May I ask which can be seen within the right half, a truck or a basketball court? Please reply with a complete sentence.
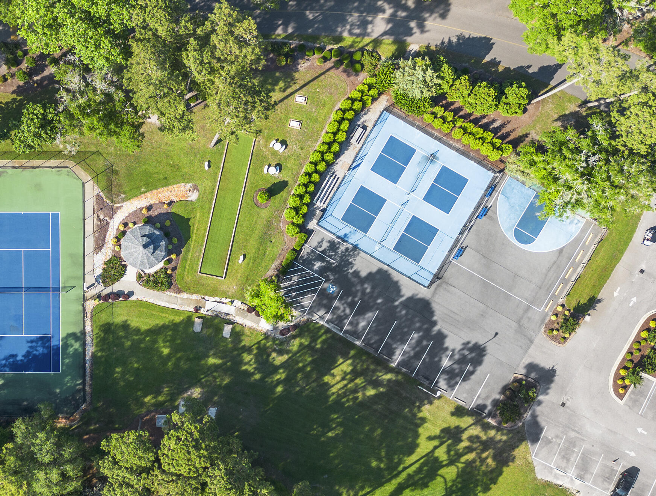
What appears within the right half is a basketball court.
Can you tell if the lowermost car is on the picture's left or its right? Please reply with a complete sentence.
You can find the lowermost car on the right side of the picture.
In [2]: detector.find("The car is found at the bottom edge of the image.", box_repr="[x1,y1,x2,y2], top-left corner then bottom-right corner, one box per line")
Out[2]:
[611,473,636,496]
